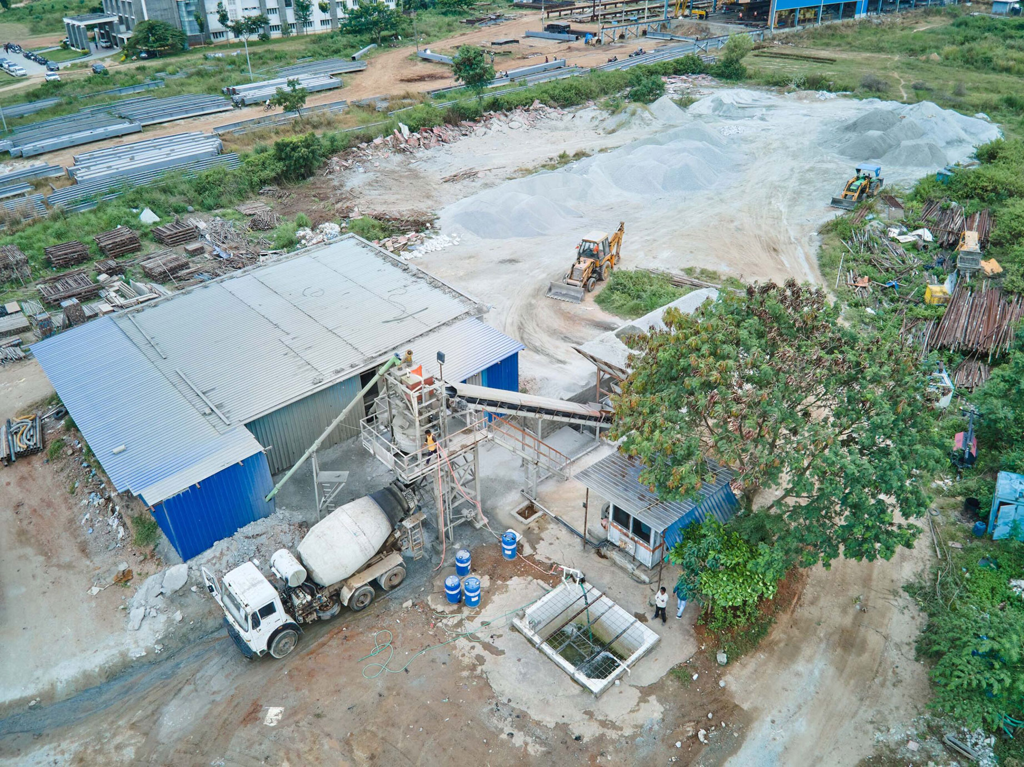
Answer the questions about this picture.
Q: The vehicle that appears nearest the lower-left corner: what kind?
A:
truck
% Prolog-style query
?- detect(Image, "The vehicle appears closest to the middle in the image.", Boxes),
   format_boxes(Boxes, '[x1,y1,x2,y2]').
[553,215,613,302]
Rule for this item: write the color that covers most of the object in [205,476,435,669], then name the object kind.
white truck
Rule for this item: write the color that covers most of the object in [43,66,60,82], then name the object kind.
white car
